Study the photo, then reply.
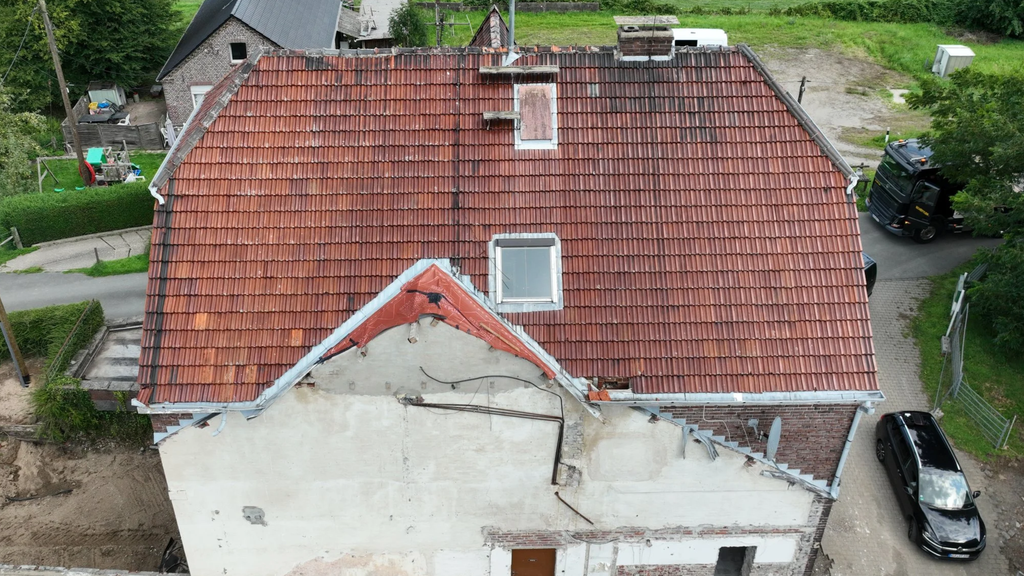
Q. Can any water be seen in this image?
No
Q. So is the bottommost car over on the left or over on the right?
right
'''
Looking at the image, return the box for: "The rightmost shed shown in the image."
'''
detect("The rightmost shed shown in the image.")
[932,47,976,78]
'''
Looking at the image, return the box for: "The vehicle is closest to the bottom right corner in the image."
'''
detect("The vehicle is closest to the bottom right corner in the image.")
[877,407,997,558]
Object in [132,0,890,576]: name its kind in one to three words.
house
